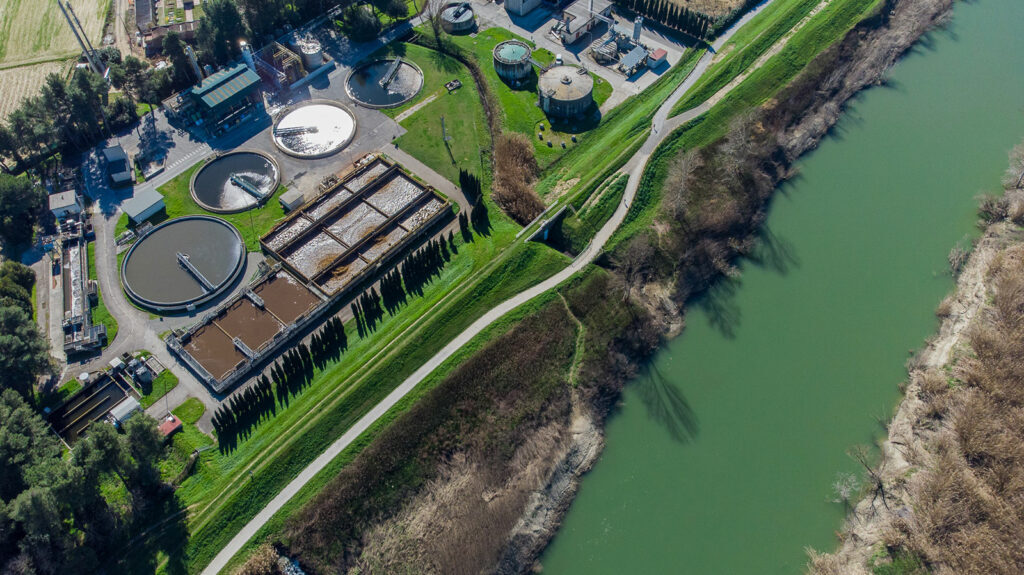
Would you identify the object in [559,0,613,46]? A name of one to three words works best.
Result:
building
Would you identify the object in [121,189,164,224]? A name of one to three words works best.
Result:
building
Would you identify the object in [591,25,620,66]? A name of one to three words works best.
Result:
storage tank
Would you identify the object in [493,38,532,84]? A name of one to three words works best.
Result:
storage tank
